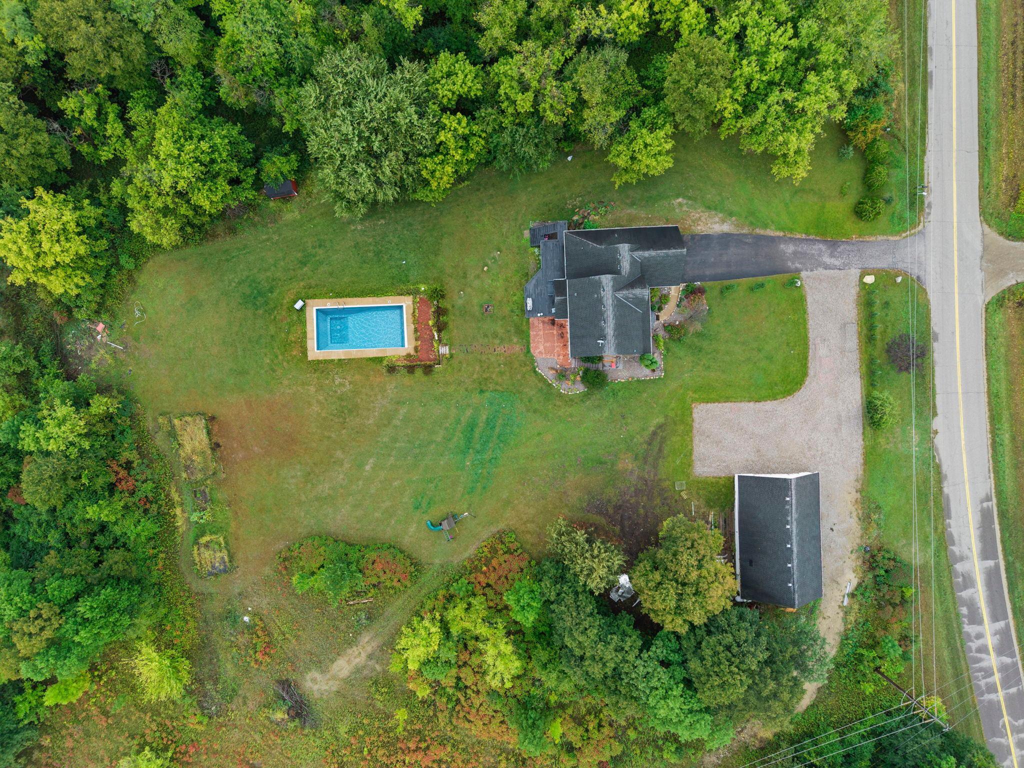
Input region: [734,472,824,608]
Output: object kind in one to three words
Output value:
barn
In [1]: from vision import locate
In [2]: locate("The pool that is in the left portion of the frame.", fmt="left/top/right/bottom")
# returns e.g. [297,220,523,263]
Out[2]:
[305,296,415,360]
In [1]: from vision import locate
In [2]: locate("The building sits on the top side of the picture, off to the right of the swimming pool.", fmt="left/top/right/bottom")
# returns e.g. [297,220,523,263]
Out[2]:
[554,225,686,358]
